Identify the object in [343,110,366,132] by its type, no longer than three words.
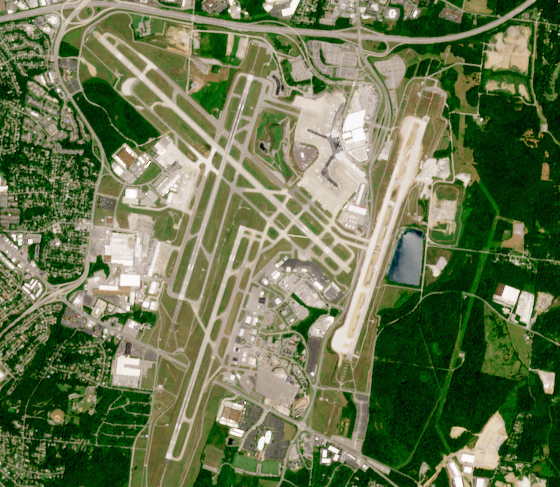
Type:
building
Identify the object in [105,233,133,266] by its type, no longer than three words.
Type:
building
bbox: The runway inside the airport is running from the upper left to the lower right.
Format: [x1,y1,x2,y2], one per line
[97,35,347,272]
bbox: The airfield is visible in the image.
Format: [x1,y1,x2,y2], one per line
[82,14,428,487]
